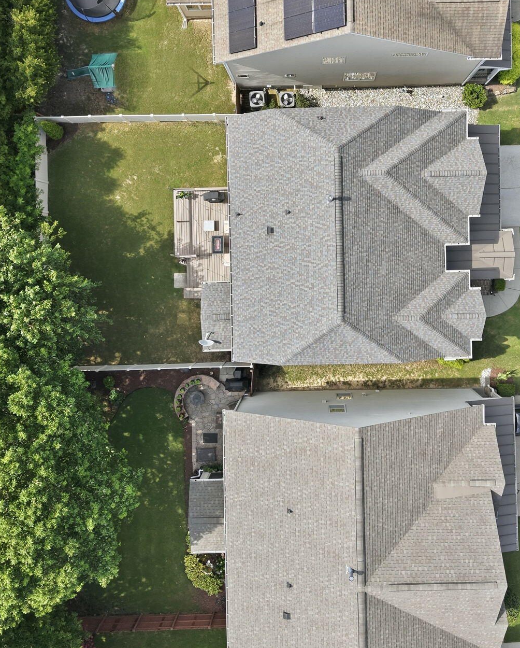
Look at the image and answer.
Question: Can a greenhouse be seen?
No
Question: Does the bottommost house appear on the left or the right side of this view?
right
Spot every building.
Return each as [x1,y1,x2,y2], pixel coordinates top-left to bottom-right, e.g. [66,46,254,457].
[173,107,517,366]
[189,386,520,648]
[167,0,514,90]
